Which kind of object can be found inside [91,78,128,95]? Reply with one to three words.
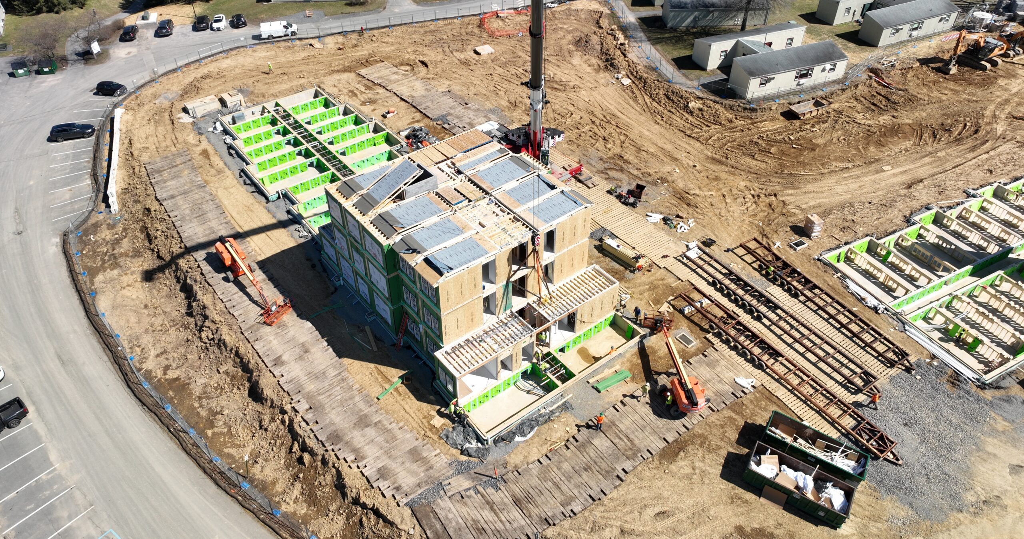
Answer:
car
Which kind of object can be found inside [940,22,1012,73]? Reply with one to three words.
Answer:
work vehicle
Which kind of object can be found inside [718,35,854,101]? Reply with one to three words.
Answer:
house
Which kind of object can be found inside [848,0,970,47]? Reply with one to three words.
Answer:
house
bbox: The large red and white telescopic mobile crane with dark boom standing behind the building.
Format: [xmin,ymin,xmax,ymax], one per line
[466,0,595,233]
